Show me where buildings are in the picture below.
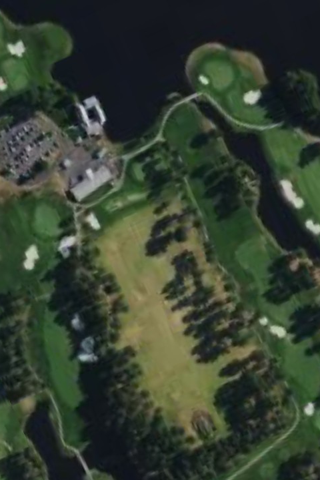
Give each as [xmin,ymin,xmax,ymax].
[66,161,114,200]
[76,95,104,134]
